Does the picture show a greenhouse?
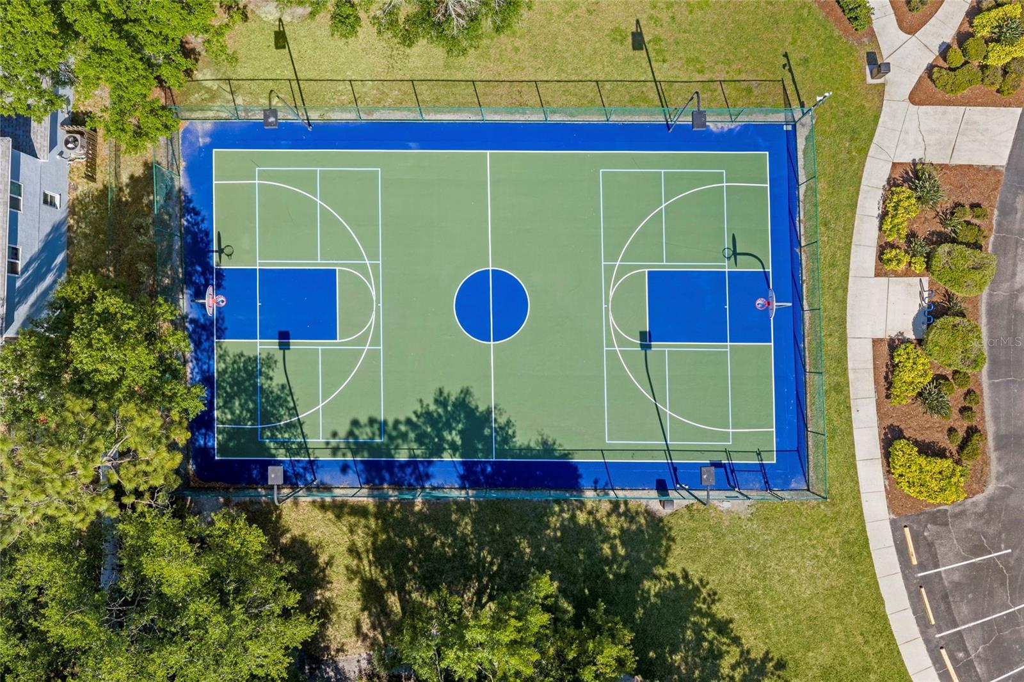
No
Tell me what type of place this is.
sports ground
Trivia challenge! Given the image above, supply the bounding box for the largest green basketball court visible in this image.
[182,122,809,490]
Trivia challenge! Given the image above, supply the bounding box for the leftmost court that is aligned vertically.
[256,168,383,441]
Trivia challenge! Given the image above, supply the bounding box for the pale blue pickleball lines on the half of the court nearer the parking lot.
[600,169,731,444]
